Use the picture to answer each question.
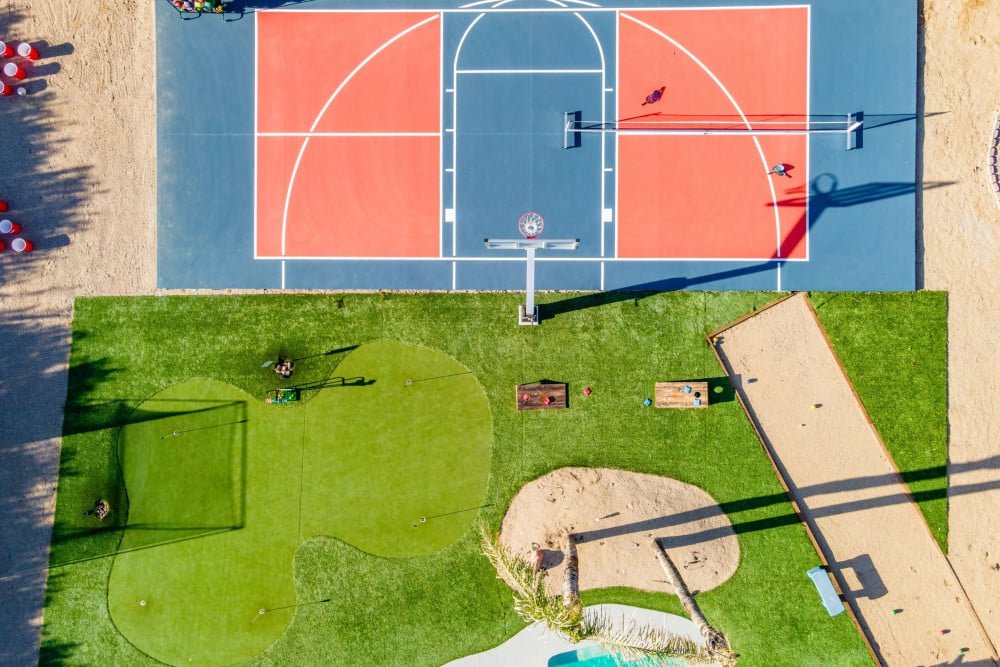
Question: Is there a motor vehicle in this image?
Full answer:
No, the photo shows no motor vehicle.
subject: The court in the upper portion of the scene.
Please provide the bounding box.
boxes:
[155,0,918,291]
